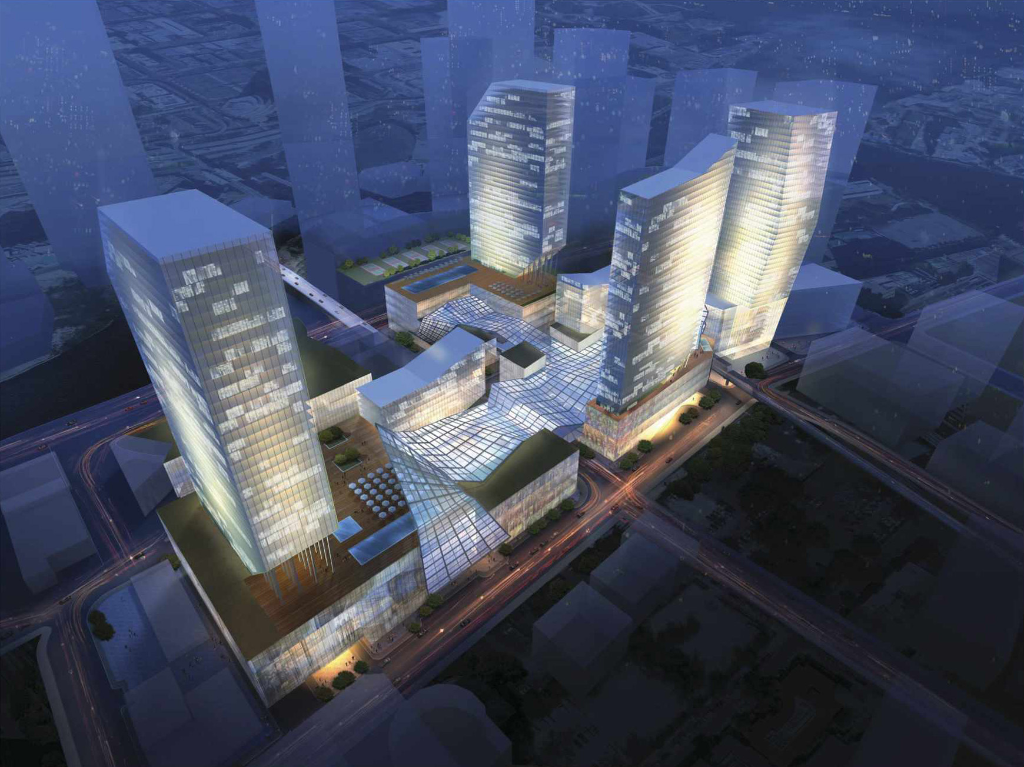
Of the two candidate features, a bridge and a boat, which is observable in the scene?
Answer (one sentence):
Visible in the photo is a bridge.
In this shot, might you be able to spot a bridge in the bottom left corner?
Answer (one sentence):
No, in the bottom left corner there is no bridge.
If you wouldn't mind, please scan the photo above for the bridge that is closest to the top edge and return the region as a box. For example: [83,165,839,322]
[281,268,406,354]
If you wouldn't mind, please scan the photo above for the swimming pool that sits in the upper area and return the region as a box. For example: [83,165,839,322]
[401,264,479,293]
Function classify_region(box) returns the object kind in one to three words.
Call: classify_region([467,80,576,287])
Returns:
building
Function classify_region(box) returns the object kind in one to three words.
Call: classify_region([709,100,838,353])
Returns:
building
